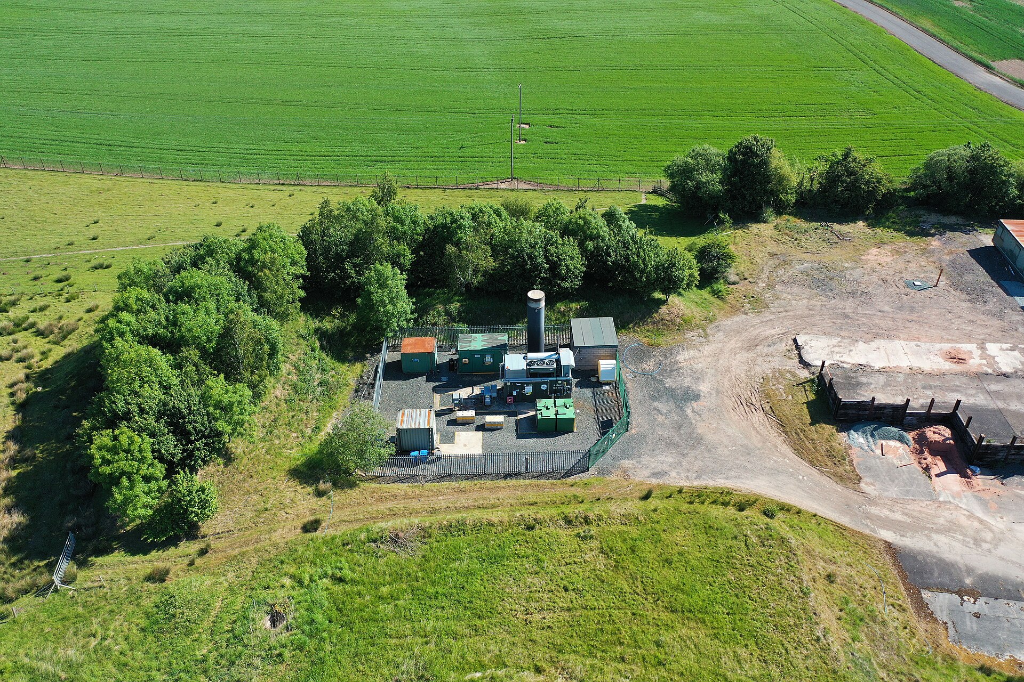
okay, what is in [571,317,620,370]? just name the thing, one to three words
shed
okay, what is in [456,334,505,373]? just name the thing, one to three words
building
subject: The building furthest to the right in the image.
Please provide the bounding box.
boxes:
[992,219,1024,283]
